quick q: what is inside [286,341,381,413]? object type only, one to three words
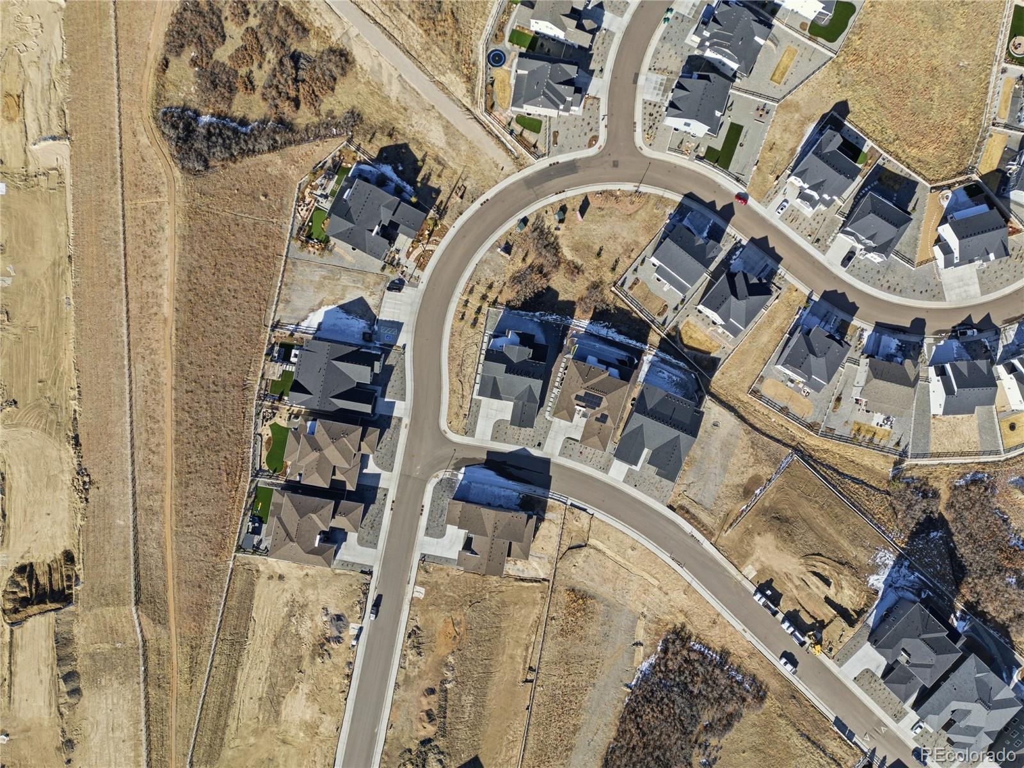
house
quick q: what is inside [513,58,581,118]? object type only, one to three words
house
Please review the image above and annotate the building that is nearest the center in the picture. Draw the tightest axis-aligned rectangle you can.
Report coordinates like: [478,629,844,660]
[479,336,545,427]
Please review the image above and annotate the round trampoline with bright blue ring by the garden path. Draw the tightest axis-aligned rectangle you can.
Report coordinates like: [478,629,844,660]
[488,47,506,64]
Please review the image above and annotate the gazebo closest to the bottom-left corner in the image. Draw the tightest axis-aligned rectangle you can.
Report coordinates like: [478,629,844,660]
[236,534,253,552]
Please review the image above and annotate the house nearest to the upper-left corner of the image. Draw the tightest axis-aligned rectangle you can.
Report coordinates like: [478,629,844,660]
[326,176,429,262]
